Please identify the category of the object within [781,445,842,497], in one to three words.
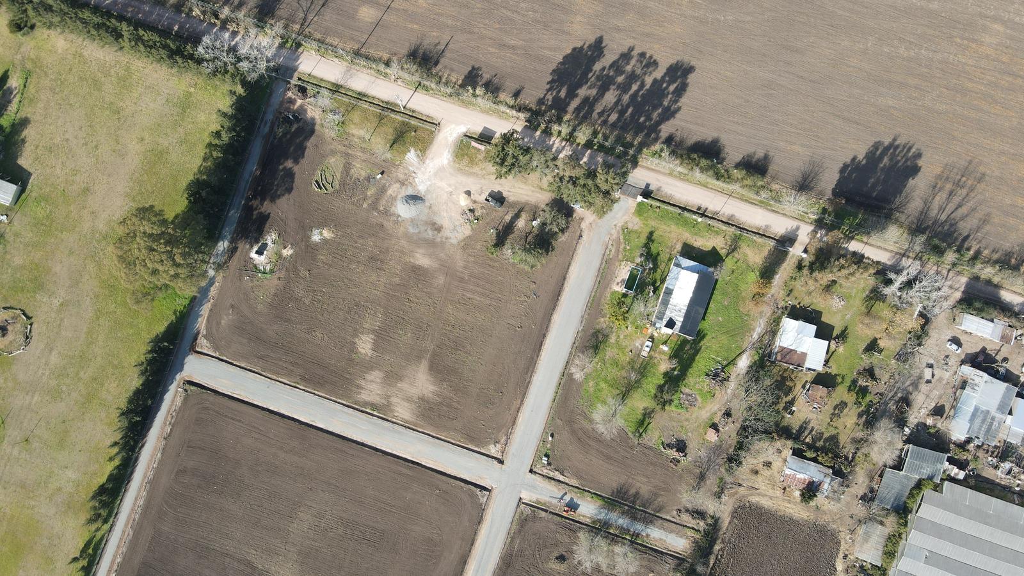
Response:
shed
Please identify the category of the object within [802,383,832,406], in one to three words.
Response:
shed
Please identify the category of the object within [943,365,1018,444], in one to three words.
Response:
house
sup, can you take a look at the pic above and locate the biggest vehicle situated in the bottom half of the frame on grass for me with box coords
[640,339,653,359]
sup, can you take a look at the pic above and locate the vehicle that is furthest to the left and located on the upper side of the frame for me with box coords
[483,192,502,208]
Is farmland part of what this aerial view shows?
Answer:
Yes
